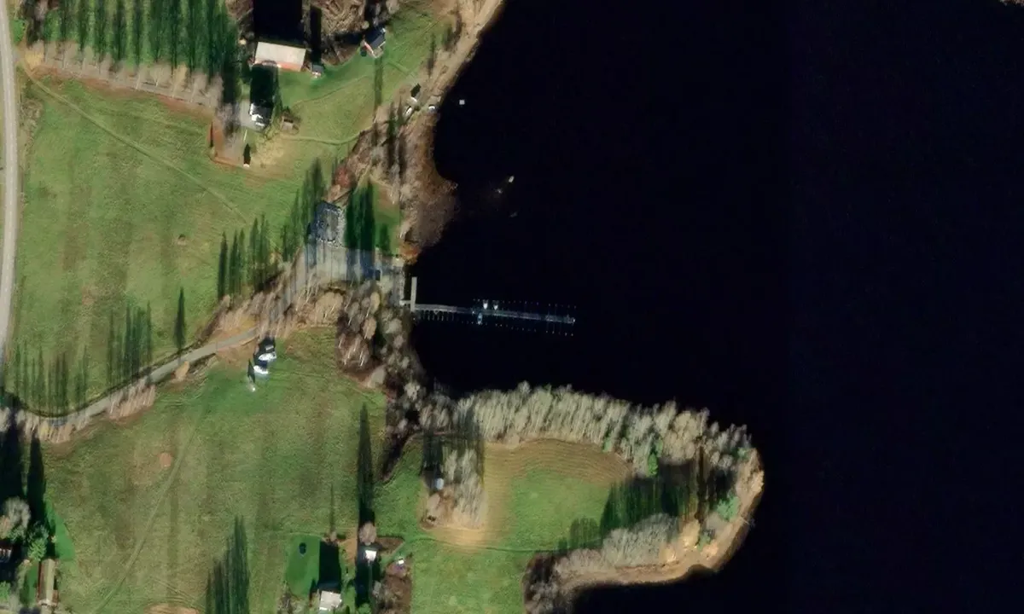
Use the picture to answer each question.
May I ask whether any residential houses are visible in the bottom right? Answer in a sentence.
No, no residential house is visible in the bottom right.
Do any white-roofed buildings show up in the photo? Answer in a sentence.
Yes, a white-roofed building can be made out from above.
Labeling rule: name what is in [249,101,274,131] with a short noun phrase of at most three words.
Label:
house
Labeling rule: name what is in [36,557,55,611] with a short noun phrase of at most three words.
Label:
building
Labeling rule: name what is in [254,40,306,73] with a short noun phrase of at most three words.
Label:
barn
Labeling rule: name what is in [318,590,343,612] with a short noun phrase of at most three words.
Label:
building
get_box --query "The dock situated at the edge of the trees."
[403,276,575,323]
